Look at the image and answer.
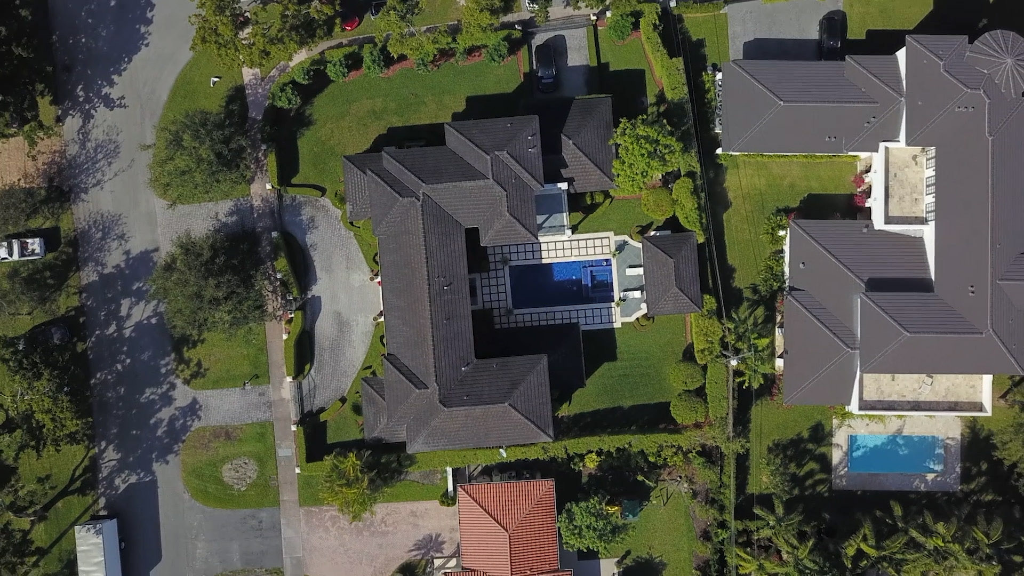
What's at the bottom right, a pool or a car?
pool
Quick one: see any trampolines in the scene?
No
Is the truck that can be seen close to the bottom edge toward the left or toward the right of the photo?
left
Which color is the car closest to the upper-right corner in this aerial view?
black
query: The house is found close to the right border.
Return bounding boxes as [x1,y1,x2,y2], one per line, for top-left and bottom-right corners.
[721,28,1024,416]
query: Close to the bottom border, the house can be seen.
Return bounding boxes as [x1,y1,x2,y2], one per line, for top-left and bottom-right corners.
[433,476,573,576]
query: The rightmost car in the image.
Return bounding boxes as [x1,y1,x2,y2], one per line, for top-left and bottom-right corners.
[817,11,846,61]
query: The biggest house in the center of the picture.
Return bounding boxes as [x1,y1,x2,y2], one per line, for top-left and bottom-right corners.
[342,96,616,453]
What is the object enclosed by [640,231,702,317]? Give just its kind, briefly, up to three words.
building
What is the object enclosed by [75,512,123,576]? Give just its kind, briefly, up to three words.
truck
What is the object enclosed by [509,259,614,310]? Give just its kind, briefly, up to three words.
swimming pool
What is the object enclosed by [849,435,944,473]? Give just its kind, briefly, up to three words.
swimming pool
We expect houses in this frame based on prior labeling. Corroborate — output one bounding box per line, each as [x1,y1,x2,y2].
[721,28,1024,416]
[433,476,573,576]
[342,96,616,453]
